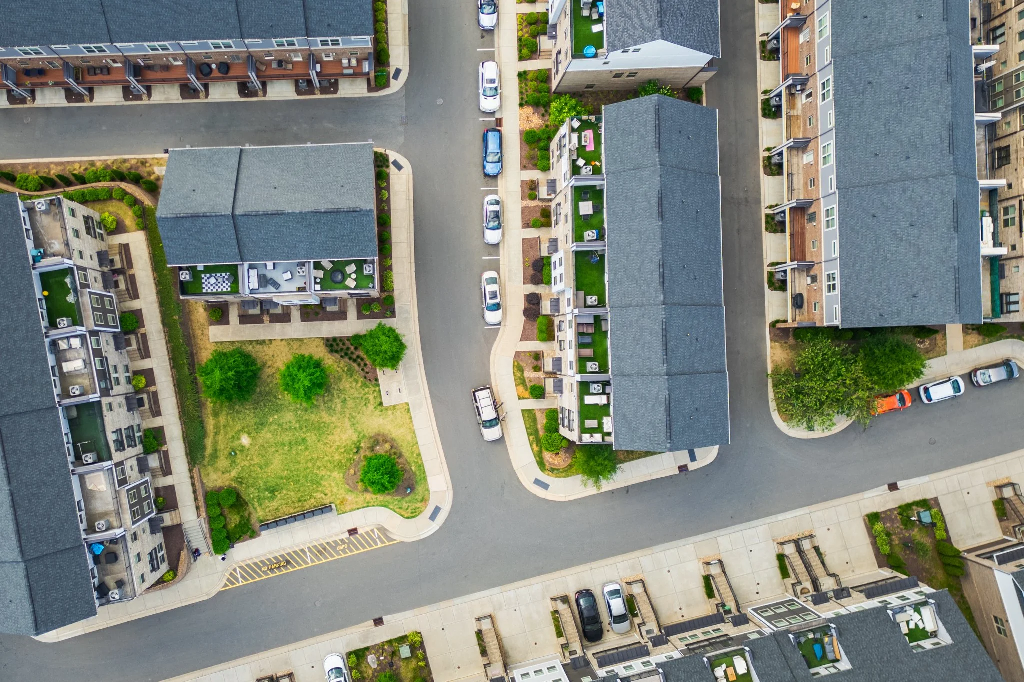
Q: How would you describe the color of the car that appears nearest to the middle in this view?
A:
white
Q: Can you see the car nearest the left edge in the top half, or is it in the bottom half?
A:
bottom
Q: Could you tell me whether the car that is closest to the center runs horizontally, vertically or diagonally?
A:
vertically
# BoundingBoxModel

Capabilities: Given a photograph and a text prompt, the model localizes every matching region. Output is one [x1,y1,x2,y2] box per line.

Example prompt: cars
[918,376,965,403]
[969,360,1019,386]
[478,59,503,112]
[482,194,505,244]
[324,652,349,682]
[870,389,914,414]
[473,387,507,440]
[476,0,500,30]
[604,581,632,634]
[576,589,605,641]
[481,271,505,324]
[482,127,505,176]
